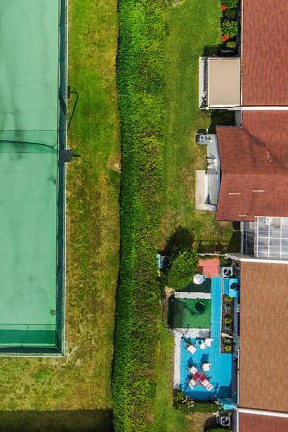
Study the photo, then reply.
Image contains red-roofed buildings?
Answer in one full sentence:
Yes, I can see a red-roofed building in this picture.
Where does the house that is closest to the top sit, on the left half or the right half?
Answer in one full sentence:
It is on the right.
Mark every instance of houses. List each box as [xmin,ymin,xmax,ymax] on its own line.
[234,260,288,410]
[232,409,288,432]
[208,111,288,220]
[200,0,288,107]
